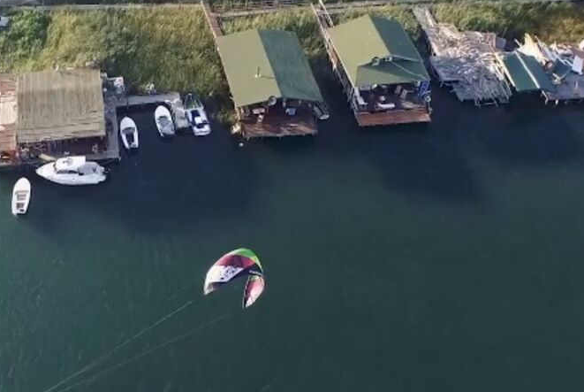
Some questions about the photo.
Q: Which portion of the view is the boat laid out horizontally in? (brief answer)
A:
left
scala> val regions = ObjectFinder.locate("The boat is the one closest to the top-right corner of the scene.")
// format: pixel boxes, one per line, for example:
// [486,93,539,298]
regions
[315,101,331,119]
